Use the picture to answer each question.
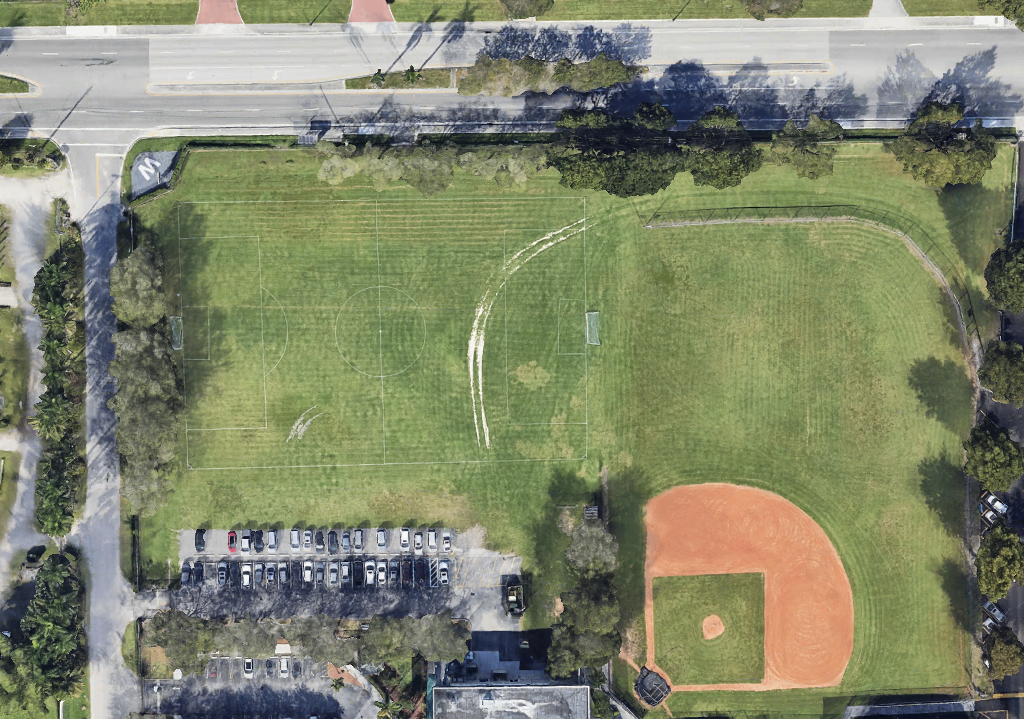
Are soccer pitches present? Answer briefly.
Yes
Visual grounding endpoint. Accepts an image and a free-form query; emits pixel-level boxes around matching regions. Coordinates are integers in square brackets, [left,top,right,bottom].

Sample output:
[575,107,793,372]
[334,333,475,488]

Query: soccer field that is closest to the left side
[175,195,591,472]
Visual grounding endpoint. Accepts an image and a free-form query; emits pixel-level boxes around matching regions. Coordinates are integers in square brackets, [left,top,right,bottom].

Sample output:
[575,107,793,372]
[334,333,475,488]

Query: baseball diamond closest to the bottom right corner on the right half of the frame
[613,216,979,719]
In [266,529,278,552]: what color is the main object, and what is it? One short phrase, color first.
white vehicle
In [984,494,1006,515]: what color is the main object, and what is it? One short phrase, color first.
white car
